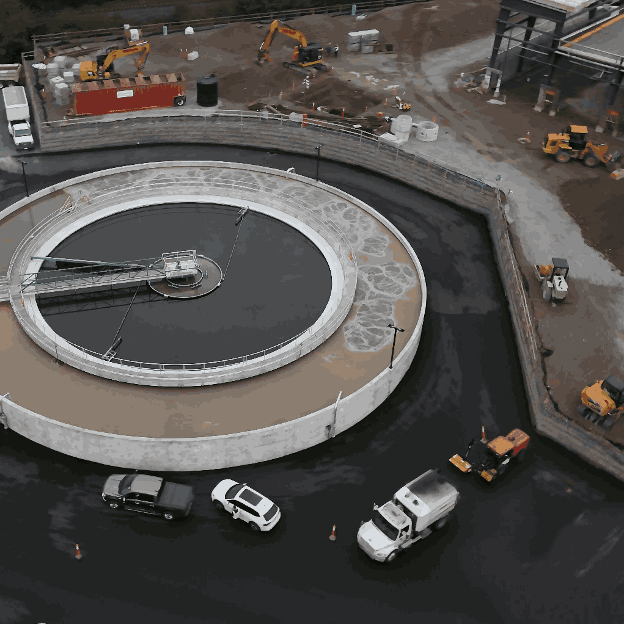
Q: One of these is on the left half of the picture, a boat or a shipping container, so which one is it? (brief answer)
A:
shipping container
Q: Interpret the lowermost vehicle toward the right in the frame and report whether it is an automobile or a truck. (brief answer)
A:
truck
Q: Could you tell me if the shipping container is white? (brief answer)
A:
No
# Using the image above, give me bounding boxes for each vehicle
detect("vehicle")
[538,251,571,292]
[208,481,284,535]
[544,127,616,167]
[72,38,150,80]
[1,88,31,136]
[0,60,22,88]
[97,471,197,521]
[355,459,466,566]
[458,431,534,483]
[572,380,624,432]
[255,15,329,78]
